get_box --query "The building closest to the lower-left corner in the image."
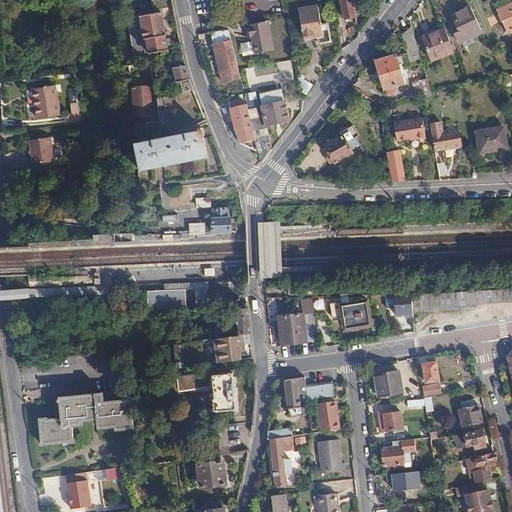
[68,472,92,508]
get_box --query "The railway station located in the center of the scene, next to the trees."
[0,219,512,282]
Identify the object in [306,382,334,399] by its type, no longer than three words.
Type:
building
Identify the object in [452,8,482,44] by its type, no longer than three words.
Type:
house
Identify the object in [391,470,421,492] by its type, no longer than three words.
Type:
house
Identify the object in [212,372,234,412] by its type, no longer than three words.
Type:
building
